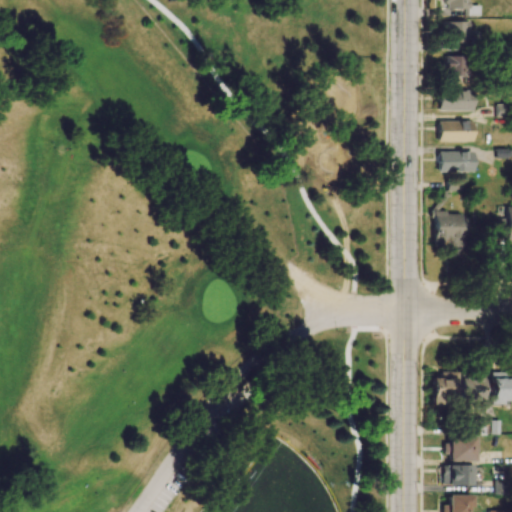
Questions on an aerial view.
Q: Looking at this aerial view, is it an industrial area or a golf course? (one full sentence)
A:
It's a golf course.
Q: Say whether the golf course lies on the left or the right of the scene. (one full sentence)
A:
It is on the left.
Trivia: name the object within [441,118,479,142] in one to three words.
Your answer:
house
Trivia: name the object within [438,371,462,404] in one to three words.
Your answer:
house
